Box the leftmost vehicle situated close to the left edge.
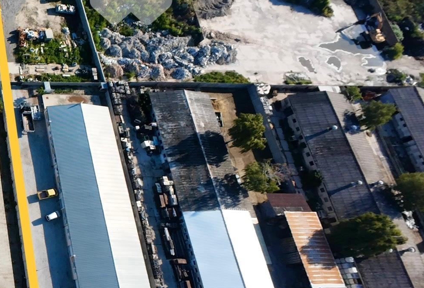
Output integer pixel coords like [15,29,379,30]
[20,107,37,130]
